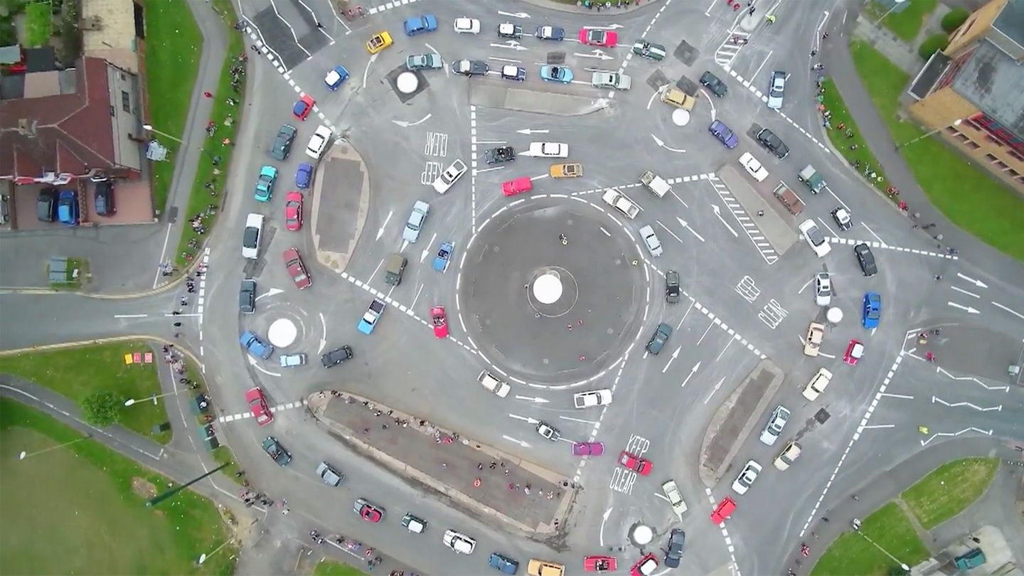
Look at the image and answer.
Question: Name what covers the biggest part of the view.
paved ground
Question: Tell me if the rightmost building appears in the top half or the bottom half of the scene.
top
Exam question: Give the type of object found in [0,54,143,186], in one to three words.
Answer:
house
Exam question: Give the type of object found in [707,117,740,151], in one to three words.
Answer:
car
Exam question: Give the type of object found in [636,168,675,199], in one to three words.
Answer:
truck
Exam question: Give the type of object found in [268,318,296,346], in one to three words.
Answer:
roundabout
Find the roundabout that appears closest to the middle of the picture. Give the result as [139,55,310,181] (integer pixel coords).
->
[533,273,562,303]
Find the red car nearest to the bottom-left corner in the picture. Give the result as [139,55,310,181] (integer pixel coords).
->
[245,385,276,428]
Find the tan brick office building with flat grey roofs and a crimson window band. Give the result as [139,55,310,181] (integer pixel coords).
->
[897,0,1024,194]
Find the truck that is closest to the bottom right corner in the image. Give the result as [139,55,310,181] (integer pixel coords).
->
[951,547,989,574]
